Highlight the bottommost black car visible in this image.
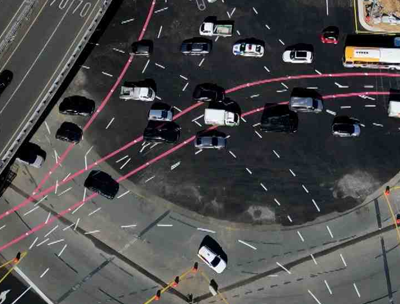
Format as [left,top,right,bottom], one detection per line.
[85,174,119,197]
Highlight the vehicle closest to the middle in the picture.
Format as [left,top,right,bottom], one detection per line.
[194,134,228,149]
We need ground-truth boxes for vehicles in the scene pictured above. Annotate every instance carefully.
[194,134,228,149]
[392,36,400,46]
[388,101,400,117]
[320,31,341,43]
[342,45,400,68]
[282,49,313,64]
[330,121,362,136]
[61,100,93,115]
[55,128,84,143]
[148,108,173,122]
[121,87,155,102]
[233,42,264,57]
[193,87,226,103]
[196,245,229,277]
[205,109,239,127]
[181,42,212,57]
[145,125,180,140]
[291,96,323,113]
[85,174,119,197]
[201,22,232,37]
[131,42,154,56]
